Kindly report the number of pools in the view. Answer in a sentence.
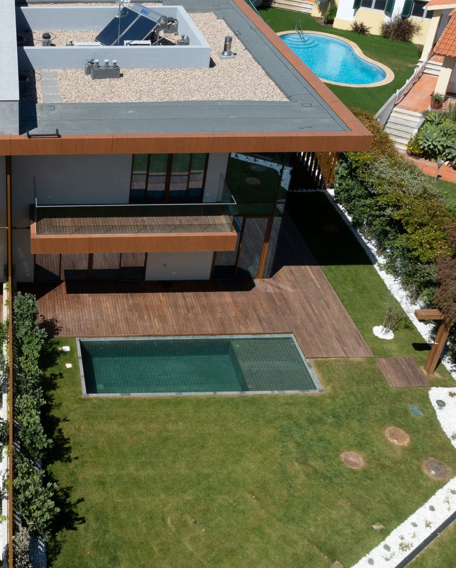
Looking from above, you can make out 2 pools.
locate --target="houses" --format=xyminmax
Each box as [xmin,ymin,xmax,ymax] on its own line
[0,0,373,284]
[334,0,456,114]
